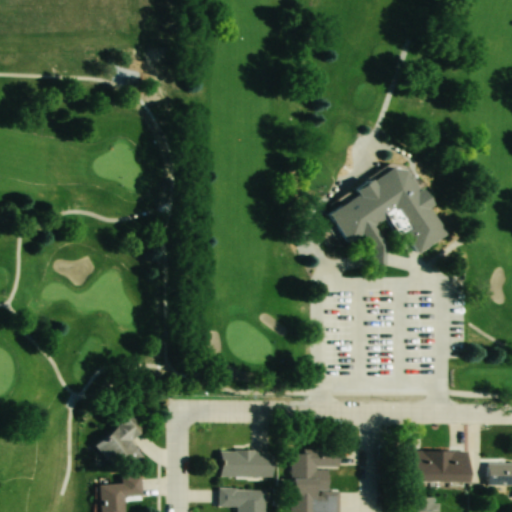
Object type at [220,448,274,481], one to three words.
house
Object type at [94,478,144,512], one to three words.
house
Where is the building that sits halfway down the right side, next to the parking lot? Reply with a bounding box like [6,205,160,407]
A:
[330,168,448,269]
